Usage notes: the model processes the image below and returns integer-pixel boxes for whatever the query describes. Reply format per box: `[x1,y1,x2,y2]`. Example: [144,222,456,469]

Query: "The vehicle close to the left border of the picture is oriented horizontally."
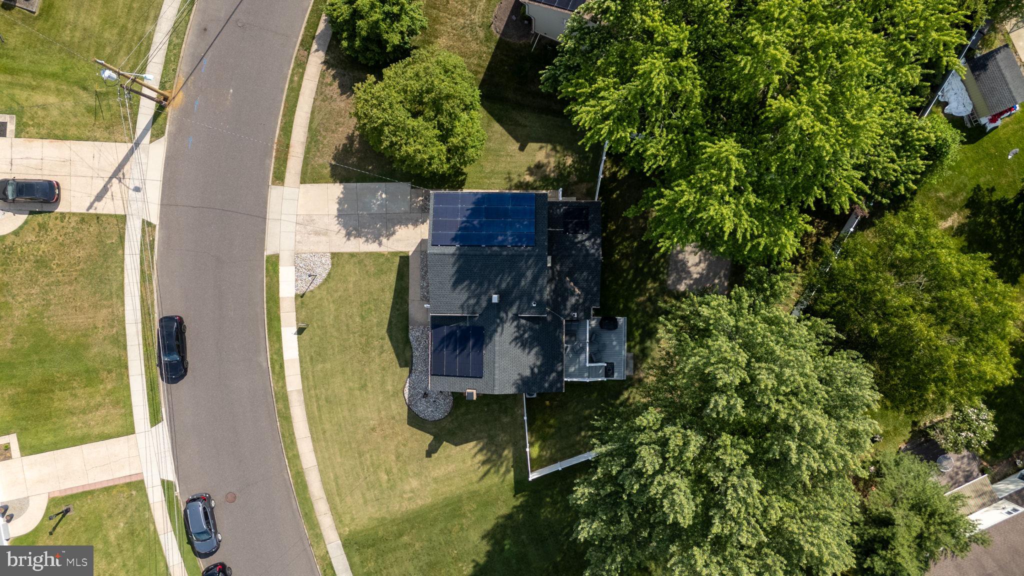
[0,175,65,205]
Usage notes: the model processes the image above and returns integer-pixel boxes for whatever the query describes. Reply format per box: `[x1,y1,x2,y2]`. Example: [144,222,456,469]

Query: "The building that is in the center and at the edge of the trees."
[425,189,604,399]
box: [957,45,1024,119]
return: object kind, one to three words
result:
shed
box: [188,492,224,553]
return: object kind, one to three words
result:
car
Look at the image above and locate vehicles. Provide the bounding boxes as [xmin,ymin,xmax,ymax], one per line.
[206,558,236,576]
[156,316,191,381]
[188,492,224,553]
[0,175,65,205]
